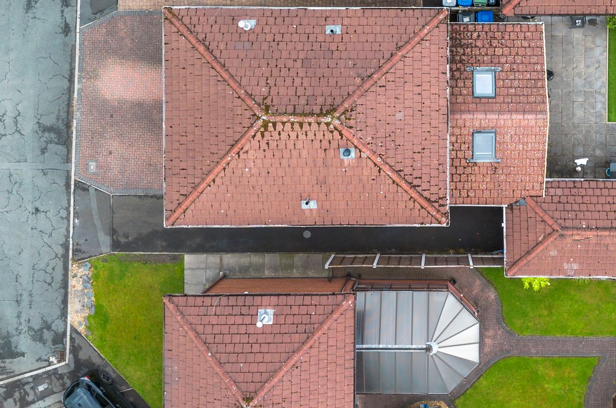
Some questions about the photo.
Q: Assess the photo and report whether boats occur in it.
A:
No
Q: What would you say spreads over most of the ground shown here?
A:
buildings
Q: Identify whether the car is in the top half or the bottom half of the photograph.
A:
bottom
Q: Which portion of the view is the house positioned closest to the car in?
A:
bottom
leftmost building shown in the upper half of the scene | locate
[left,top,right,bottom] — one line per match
[162,5,550,227]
